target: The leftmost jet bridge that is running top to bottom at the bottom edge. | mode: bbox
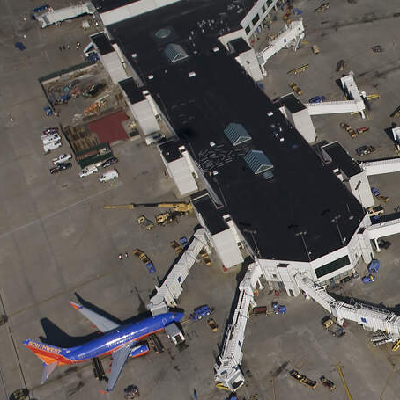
[222,261,263,389]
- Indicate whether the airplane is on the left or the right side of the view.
left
